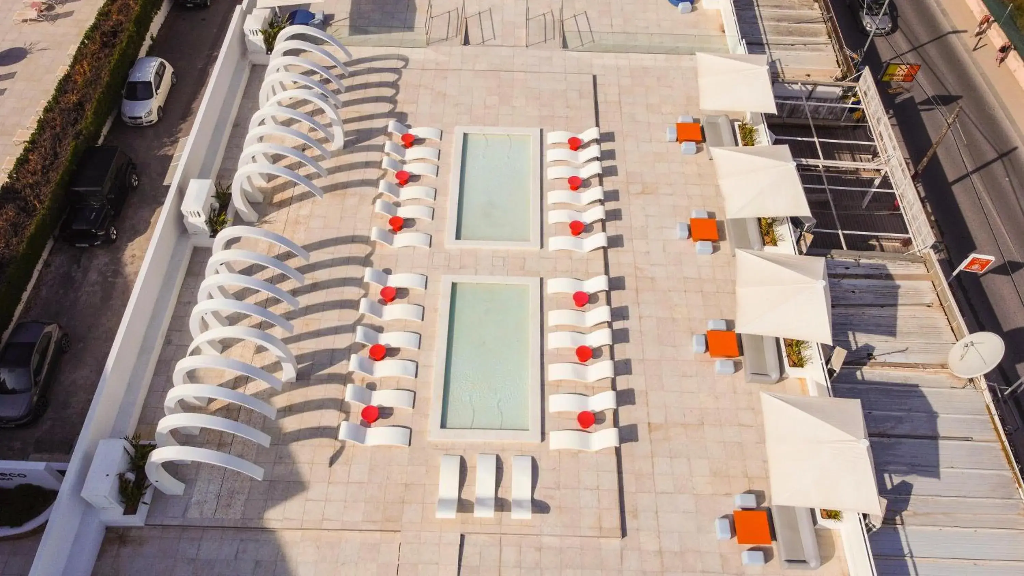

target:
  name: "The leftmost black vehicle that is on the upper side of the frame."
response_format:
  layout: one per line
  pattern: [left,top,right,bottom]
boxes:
[58,151,138,253]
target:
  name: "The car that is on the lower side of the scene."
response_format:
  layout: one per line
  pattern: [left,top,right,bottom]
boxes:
[0,318,72,433]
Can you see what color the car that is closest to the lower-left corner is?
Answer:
black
